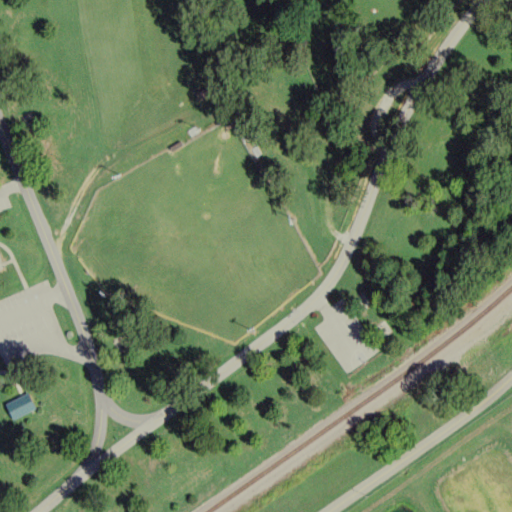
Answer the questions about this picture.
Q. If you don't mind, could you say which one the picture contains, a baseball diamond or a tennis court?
baseball diamond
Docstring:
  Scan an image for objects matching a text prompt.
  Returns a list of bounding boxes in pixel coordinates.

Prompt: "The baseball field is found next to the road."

[70,123,323,346]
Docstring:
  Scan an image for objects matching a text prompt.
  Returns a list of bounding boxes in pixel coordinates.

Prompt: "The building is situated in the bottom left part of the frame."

[6,396,34,420]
